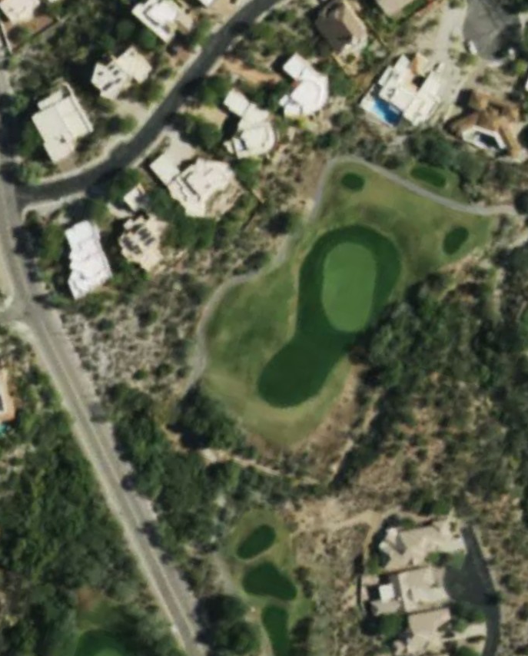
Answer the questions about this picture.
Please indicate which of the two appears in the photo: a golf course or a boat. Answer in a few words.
golf course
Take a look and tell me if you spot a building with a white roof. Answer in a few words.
Yes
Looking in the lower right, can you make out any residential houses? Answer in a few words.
Yes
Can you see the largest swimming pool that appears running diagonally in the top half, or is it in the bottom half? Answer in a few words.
top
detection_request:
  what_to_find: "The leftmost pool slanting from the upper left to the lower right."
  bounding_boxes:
[371,96,404,126]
